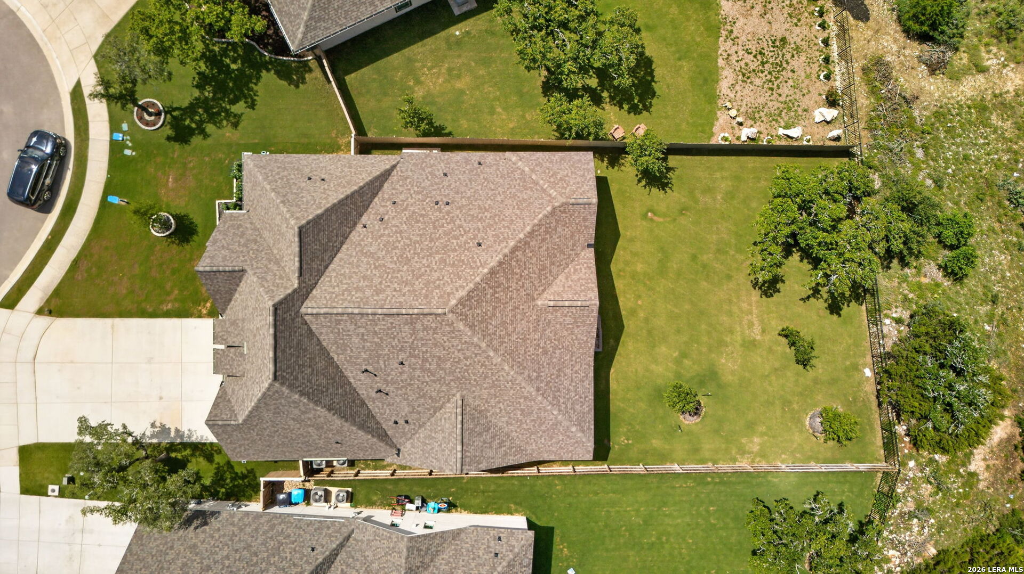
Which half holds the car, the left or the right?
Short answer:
left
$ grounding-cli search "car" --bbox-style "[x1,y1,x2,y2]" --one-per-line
[0,126,65,209]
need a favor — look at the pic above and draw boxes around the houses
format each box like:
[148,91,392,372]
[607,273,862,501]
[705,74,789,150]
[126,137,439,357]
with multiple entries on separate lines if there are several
[269,0,453,56]
[194,150,599,474]
[117,499,534,574]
